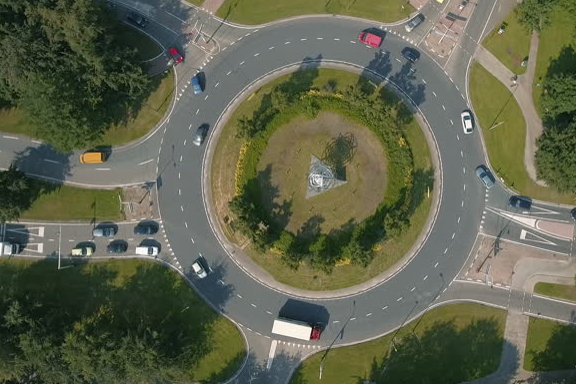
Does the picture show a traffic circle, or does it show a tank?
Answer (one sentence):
Visible in the photo is a traffic circle.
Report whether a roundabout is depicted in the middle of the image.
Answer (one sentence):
Yes, there is a roundabout in the middle of the image.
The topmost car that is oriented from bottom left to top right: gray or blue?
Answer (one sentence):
The topmost car that is oriented from bottom left to top right looks gray in the image.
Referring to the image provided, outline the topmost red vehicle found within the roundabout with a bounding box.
[359,32,383,46]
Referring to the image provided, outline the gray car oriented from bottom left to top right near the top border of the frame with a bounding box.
[403,12,425,32]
